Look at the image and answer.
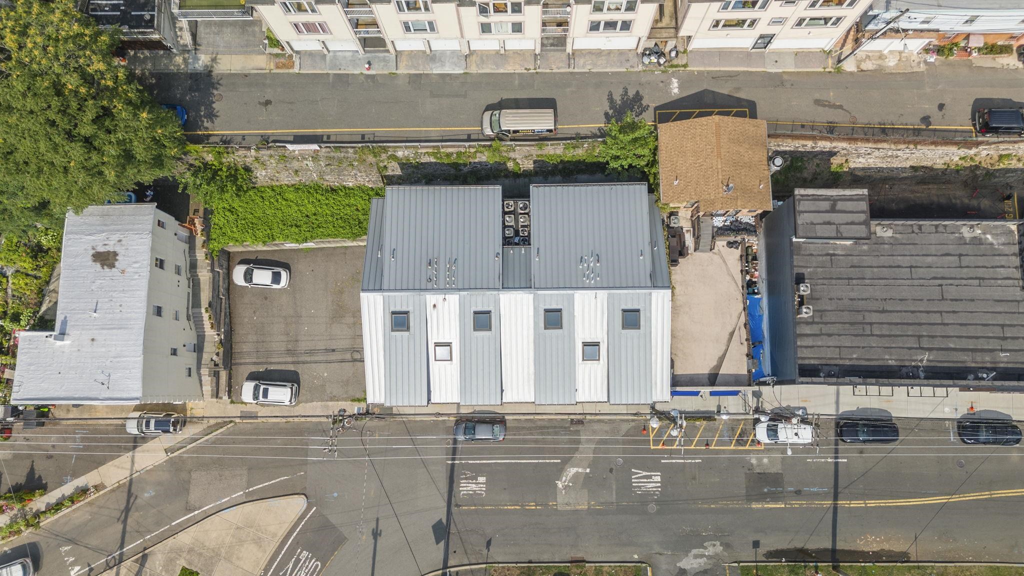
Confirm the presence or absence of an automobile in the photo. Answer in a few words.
Yes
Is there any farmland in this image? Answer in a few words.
No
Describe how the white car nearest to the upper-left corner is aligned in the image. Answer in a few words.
horizontally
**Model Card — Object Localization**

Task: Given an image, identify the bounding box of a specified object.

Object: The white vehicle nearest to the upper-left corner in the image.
[235,262,291,288]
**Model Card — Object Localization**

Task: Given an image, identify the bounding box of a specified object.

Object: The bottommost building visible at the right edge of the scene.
[757,188,1024,384]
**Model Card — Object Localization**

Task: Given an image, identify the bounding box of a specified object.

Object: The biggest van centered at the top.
[483,107,556,145]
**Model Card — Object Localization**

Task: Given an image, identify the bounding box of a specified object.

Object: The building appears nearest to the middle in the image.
[359,180,671,407]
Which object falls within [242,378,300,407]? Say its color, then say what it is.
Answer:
white car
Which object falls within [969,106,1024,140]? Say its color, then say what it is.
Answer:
black car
